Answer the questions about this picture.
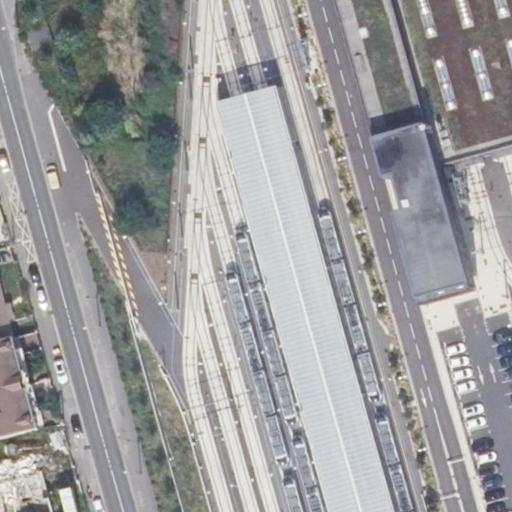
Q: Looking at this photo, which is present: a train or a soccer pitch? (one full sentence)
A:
This aerial view contains a train.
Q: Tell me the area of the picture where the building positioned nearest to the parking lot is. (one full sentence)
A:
The building positioned nearest to the parking lot sits in the right section of the image.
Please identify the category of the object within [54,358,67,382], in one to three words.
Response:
vehicle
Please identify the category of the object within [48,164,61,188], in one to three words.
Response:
vehicle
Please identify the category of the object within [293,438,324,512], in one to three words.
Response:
train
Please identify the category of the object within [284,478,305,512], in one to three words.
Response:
train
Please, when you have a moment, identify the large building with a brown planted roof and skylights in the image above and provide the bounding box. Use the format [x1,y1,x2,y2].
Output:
[399,0,512,162]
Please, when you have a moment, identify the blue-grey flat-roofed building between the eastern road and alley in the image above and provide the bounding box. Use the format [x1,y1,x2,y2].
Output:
[372,124,469,302]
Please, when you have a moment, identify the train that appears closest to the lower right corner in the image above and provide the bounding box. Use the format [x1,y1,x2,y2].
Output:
[377,414,416,512]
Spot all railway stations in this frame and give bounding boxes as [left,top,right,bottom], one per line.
[218,86,398,512]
